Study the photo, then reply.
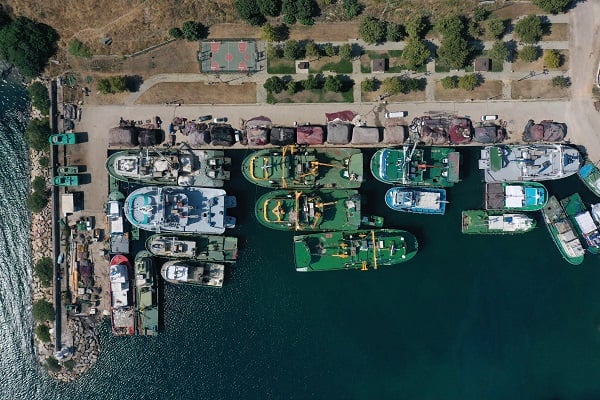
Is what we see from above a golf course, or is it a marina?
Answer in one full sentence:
The area seen from above is a marina.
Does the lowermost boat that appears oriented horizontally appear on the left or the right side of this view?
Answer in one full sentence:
The lowermost boat that appears oriented horizontally is on the left side of the image.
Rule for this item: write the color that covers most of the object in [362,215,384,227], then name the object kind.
green boat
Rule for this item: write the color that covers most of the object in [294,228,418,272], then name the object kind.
green boat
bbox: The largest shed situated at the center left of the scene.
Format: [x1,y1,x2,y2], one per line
[62,194,78,218]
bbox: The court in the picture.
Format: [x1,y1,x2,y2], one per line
[200,40,257,73]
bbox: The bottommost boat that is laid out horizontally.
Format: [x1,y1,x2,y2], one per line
[161,260,226,288]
